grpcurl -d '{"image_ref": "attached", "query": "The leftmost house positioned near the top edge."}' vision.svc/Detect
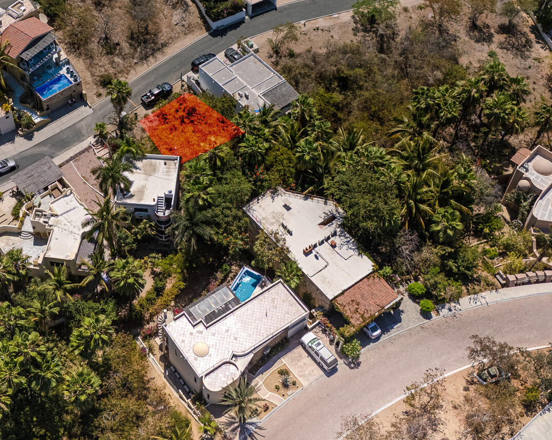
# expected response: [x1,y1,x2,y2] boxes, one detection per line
[0,0,92,140]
